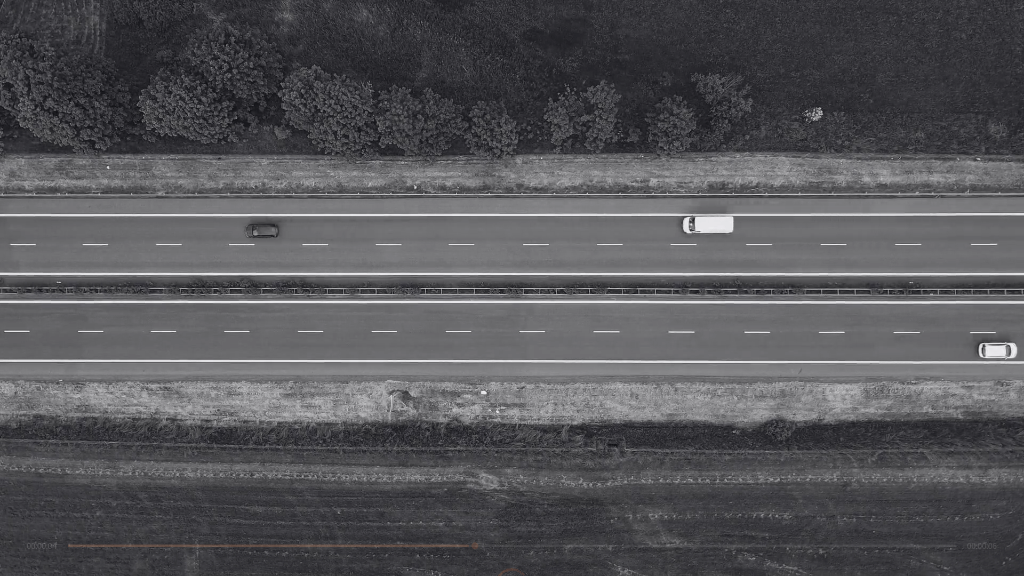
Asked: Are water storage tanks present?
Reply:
No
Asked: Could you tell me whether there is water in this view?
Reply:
No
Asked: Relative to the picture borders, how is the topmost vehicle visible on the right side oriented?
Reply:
from left to right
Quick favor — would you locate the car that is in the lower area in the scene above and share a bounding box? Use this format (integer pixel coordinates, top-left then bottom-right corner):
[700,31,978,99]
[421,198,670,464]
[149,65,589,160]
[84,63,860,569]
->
[977,342,1017,360]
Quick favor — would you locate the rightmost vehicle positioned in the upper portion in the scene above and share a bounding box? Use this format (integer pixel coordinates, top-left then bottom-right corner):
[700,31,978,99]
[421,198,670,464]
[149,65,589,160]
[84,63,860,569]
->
[682,214,733,236]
